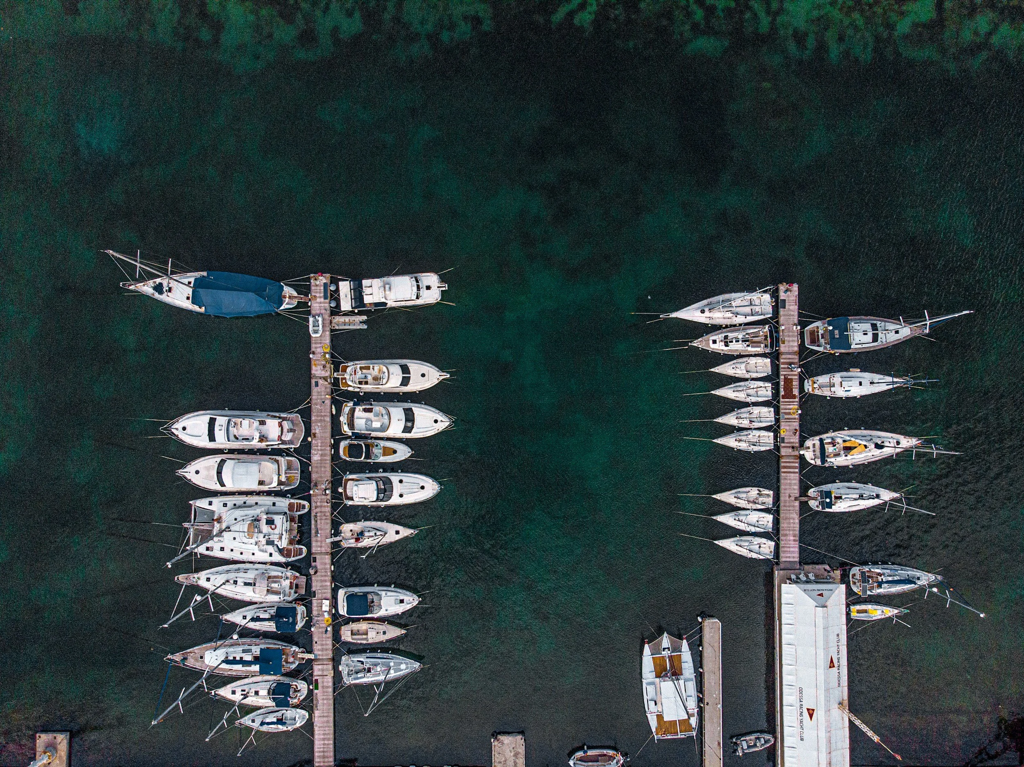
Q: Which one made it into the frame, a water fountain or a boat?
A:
boat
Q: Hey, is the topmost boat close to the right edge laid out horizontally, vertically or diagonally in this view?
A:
horizontally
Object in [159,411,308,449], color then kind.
white boat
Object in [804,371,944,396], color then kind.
white boat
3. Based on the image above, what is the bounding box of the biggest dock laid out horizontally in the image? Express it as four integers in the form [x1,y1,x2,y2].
[331,316,368,329]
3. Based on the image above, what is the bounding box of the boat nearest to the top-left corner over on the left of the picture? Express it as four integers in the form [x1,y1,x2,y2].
[98,250,301,318]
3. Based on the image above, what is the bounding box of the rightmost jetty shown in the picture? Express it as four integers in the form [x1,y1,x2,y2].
[778,285,799,560]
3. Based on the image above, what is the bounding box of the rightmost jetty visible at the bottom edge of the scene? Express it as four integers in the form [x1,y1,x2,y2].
[701,618,722,767]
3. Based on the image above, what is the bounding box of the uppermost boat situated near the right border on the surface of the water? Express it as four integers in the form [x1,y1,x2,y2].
[800,310,974,353]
